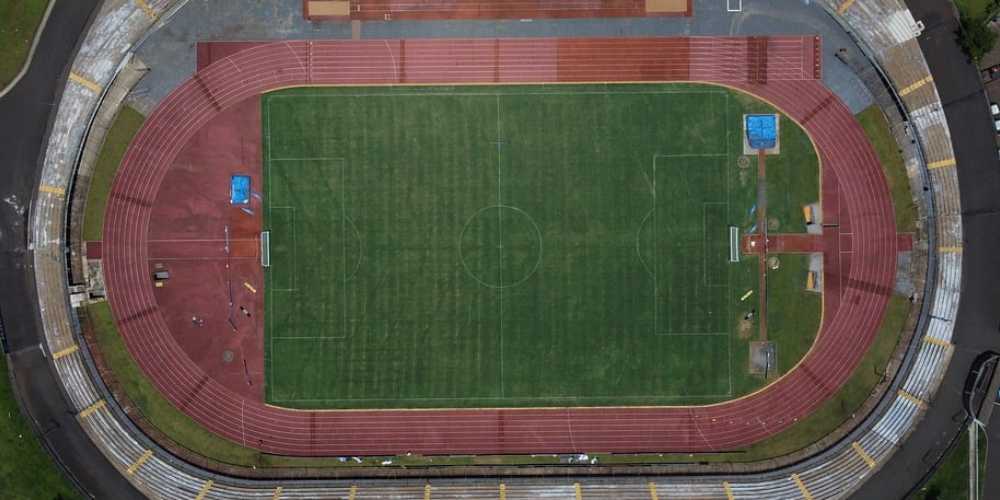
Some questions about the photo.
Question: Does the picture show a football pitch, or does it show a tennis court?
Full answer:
This aerial view contains a football pitch.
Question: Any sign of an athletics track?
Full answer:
Yes, an athletics track appears in the view.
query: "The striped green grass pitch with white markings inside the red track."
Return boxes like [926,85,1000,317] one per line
[262,82,823,409]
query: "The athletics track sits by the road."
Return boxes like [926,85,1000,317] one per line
[87,36,913,455]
